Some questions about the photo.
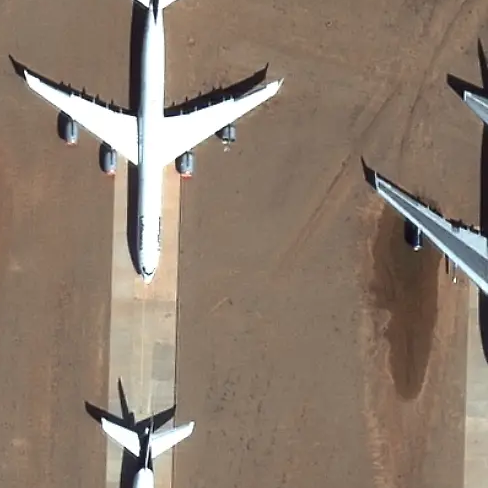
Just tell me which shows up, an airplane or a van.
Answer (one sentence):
It is an airplane that can be seen here.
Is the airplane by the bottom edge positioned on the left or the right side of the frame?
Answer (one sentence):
It is on the left.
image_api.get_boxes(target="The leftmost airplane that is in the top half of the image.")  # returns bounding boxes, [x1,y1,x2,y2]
[26,0,283,284]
